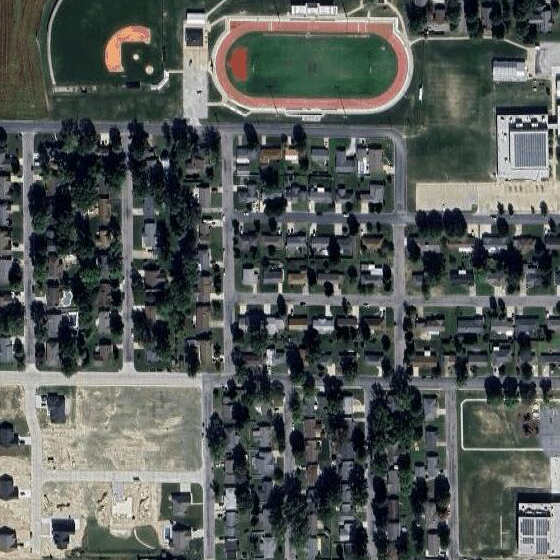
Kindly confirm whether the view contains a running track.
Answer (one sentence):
Yes, I can see a running track in this picture.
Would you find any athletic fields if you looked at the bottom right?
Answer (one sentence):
No, there's no athletic field to be seen at the bottom right.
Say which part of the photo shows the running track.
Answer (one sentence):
Look in the top portion of the view to spot the running track.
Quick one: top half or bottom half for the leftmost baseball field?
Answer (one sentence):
You can find the leftmost baseball field in the top half.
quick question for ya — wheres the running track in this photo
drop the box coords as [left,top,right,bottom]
[213,16,411,111]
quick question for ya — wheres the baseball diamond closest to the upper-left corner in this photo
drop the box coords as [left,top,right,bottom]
[49,0,164,87]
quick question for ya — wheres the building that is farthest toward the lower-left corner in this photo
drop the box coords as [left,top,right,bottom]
[0,532,21,551]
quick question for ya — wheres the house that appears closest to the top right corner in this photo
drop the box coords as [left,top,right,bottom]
[529,11,552,34]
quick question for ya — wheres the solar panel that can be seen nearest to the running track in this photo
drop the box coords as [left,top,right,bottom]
[514,133,545,169]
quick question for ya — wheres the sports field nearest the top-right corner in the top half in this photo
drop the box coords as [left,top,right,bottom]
[226,32,398,98]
